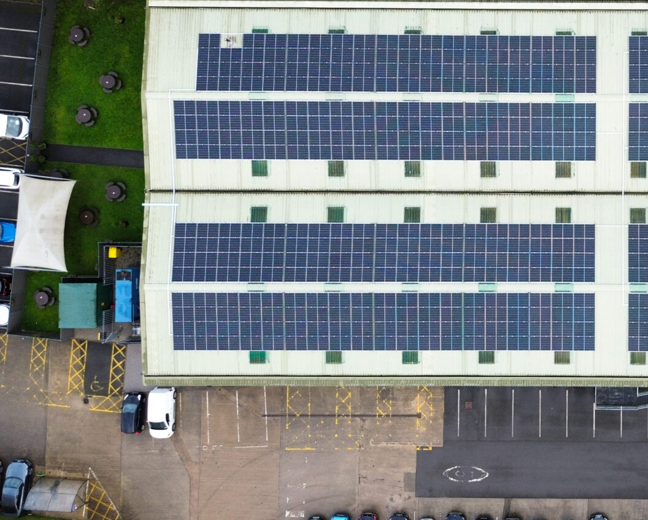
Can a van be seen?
Yes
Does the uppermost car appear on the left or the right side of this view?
left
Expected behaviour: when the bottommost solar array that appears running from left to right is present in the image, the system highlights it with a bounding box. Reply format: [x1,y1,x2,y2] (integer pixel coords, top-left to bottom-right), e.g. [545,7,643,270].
[171,291,595,352]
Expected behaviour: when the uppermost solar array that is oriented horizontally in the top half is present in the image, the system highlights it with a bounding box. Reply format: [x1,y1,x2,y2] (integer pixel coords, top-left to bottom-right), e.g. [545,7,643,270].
[196,33,596,94]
